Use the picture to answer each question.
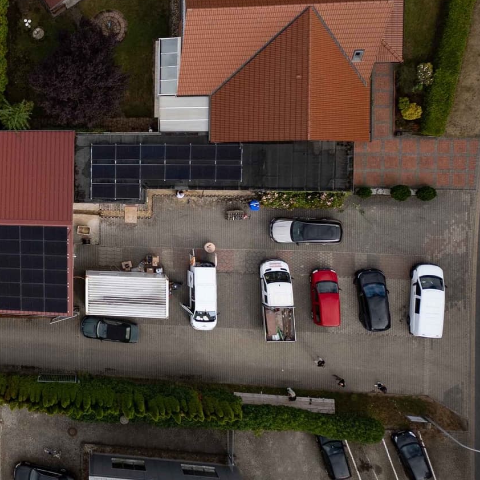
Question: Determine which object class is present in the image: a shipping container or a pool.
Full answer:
I can see a shipping container in this picture.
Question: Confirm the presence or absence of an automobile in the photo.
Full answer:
Yes, you can see an automobile in this photo.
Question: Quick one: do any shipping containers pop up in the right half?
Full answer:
No, looking in the right half, there is no shipping container.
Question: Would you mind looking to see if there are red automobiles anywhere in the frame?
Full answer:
Yes, a red automobile can be made out from above.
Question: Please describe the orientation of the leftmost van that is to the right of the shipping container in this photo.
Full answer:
The leftmost van that is to the right of the shipping container is oriented from top to bottom.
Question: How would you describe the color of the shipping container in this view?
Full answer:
From above, the shipping container appears white.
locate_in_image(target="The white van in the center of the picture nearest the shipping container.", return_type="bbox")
[180,249,219,328]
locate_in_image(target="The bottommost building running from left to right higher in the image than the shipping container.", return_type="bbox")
[74,131,356,204]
